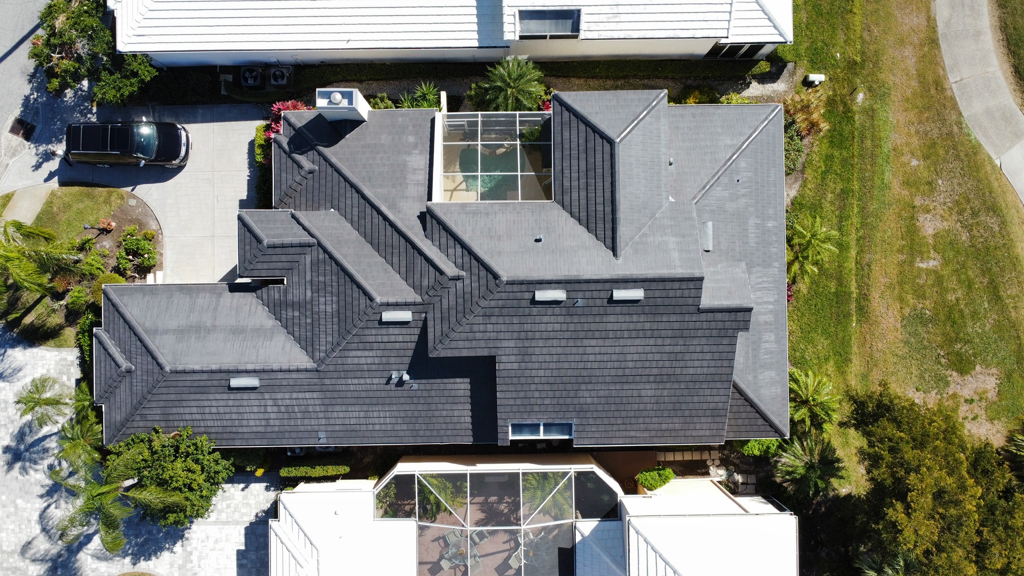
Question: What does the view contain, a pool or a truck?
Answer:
pool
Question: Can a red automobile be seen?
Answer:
No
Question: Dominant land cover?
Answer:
buildings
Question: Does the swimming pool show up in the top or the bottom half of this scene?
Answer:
top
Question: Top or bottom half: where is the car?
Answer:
top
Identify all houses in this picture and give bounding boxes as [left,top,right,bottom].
[102,0,796,80]
[90,88,791,449]
[266,455,799,576]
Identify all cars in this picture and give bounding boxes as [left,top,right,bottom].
[62,114,191,170]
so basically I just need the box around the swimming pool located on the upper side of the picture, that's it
[459,128,526,201]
